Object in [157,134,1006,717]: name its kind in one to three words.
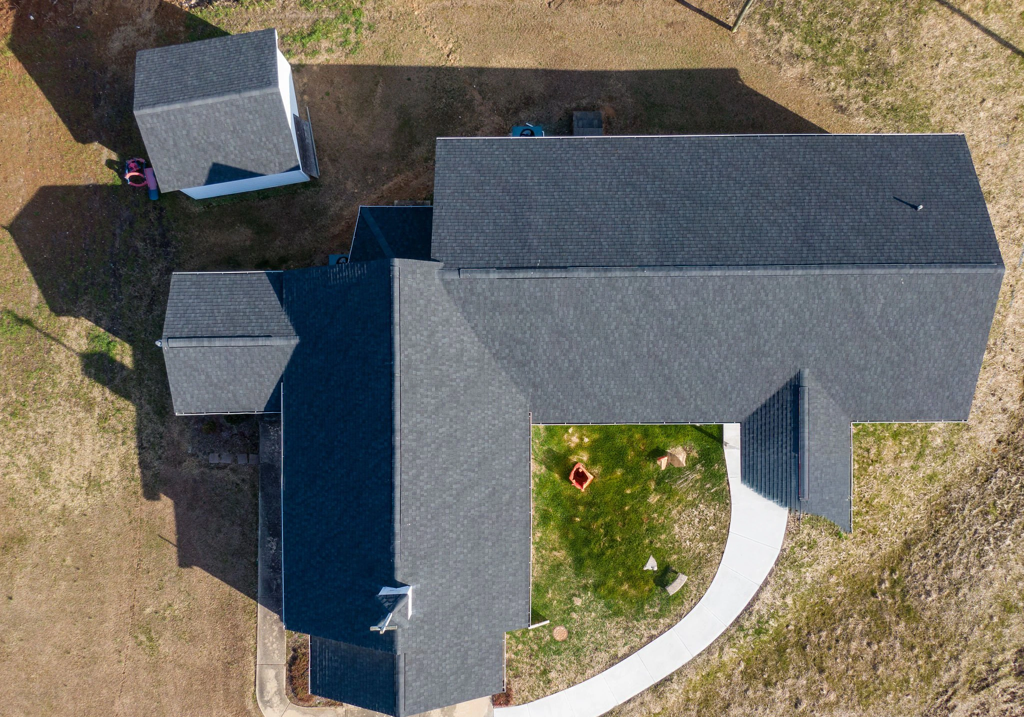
church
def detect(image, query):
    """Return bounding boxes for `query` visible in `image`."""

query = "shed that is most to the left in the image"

[133,30,312,201]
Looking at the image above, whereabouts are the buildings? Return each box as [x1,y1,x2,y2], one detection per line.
[133,30,312,201]
[157,134,1006,717]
